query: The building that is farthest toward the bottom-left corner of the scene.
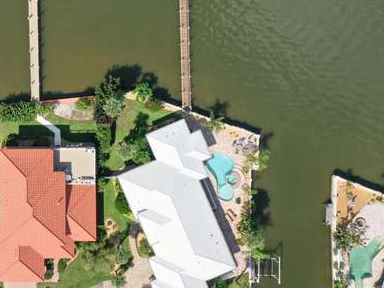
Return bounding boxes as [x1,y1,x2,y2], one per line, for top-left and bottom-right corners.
[0,145,97,283]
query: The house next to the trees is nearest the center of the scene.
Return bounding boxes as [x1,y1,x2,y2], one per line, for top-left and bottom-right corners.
[118,119,235,288]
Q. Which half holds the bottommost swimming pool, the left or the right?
right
